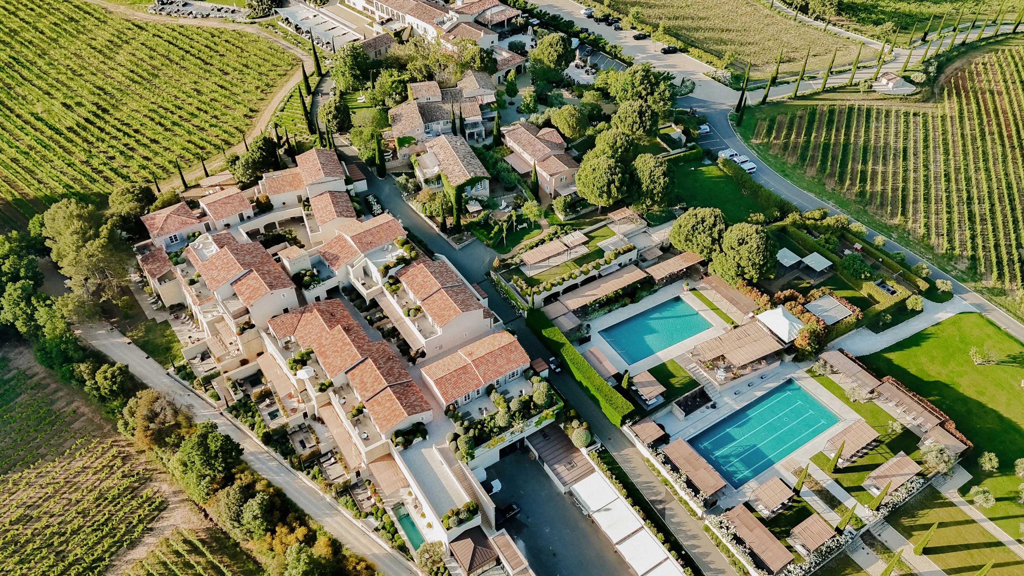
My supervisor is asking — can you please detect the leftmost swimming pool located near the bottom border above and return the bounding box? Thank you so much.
[388,498,426,553]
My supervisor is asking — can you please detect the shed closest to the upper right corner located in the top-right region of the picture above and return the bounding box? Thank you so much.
[877,71,910,92]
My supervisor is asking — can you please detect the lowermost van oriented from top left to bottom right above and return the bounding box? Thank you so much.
[471,460,504,492]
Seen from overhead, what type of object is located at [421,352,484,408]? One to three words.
house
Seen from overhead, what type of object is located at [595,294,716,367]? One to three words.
swimming pool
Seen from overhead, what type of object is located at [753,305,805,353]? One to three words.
tent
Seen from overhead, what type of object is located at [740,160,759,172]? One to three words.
vehicle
